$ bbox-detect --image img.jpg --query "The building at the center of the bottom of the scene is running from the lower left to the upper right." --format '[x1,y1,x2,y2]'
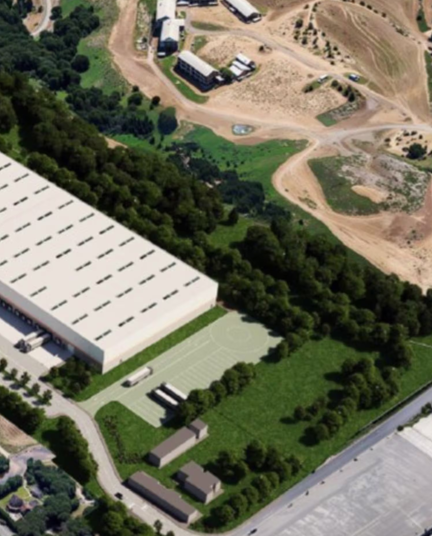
[149,414,213,468]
